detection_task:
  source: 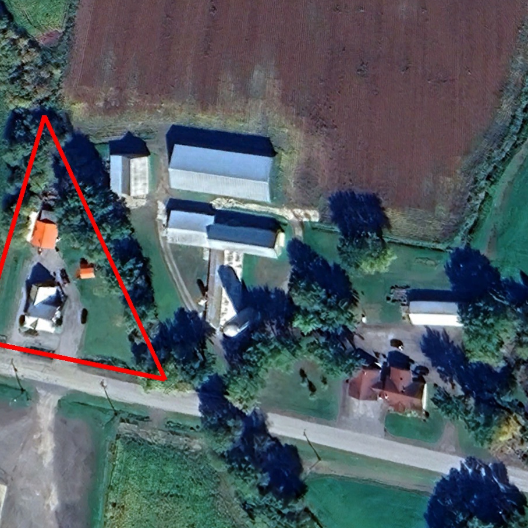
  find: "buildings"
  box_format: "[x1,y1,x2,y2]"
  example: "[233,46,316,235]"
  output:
[168,142,278,203]
[23,279,63,334]
[348,364,429,413]
[408,300,467,326]
[166,207,283,260]
[31,208,61,250]
[75,266,97,279]
[110,152,151,196]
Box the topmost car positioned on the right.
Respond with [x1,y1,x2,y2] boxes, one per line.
[389,338,405,350]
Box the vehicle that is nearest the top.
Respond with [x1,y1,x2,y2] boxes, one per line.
[60,268,72,285]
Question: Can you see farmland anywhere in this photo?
Yes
